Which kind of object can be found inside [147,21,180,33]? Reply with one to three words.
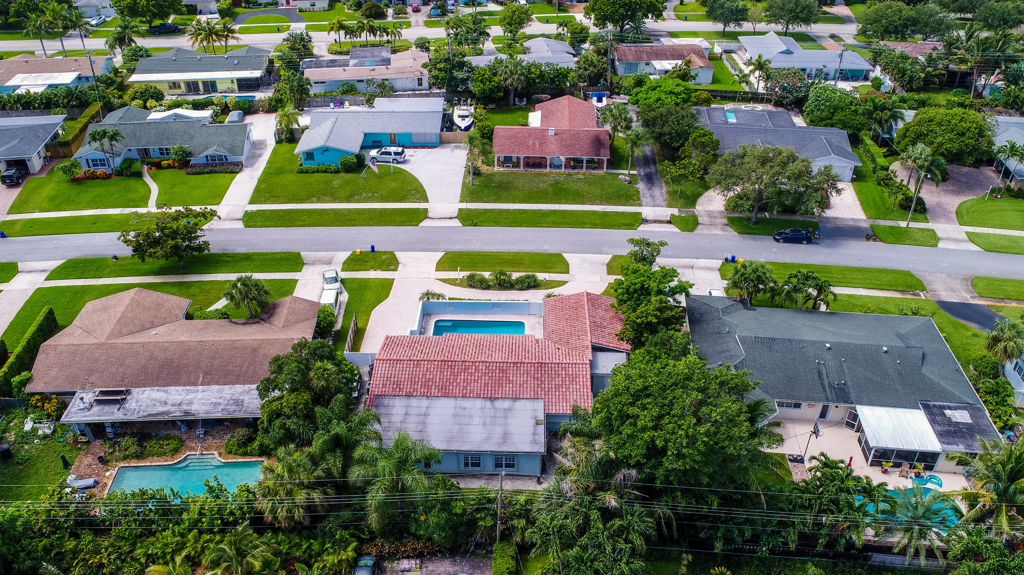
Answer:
vehicle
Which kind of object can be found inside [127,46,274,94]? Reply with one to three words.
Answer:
house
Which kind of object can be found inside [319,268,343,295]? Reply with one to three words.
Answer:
car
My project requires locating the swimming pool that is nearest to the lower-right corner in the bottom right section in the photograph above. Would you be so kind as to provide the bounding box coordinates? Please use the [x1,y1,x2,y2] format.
[848,485,968,538]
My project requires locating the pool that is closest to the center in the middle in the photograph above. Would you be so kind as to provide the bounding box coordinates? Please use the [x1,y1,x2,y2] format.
[431,318,529,334]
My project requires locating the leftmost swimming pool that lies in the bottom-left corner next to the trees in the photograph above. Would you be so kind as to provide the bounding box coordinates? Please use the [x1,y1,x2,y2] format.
[99,450,265,516]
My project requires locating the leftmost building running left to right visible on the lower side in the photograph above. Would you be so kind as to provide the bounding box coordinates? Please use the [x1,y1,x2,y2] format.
[24,287,321,435]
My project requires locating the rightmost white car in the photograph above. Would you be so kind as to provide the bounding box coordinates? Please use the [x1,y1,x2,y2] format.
[702,283,726,297]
